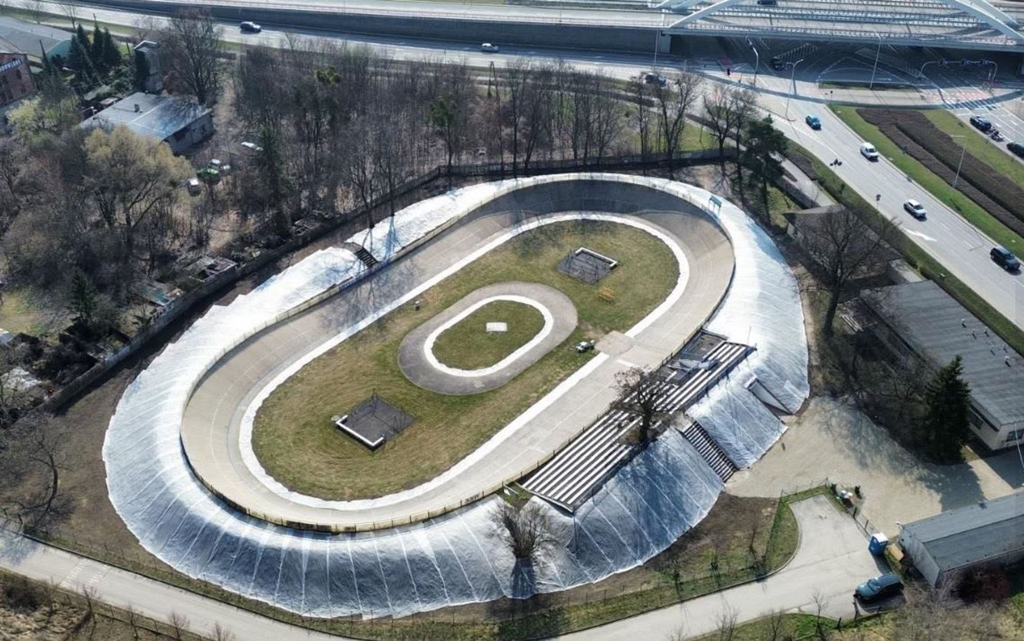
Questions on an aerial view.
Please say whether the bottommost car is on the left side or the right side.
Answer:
right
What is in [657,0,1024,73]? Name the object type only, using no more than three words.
bridge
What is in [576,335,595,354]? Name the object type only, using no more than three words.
work vehicle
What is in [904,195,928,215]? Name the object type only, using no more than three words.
car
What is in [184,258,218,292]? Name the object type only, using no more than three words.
shed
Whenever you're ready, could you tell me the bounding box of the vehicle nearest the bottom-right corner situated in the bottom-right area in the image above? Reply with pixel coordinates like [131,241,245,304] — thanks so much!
[856,566,904,598]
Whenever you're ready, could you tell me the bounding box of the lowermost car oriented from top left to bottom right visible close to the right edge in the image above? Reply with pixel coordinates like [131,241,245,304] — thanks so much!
[990,241,1022,265]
